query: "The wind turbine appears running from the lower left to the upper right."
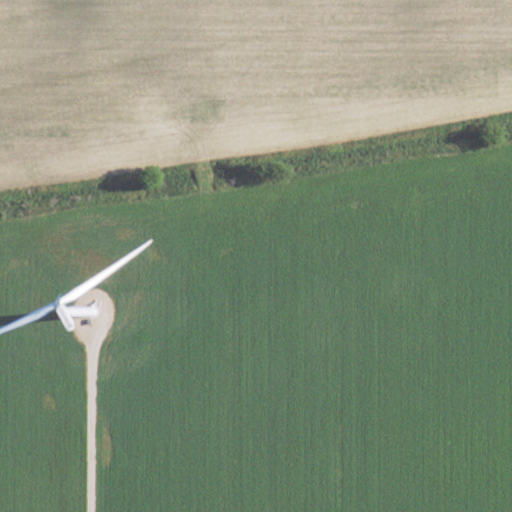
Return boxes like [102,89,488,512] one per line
[0,240,153,334]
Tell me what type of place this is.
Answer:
farmland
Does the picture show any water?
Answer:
No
